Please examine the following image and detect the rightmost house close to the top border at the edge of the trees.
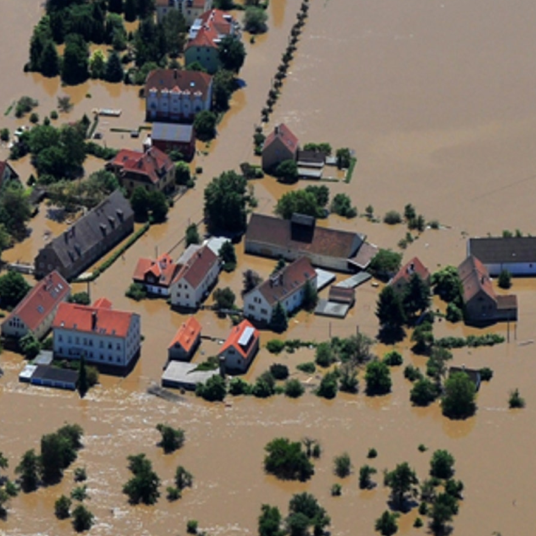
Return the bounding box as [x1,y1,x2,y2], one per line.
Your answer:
[186,9,234,69]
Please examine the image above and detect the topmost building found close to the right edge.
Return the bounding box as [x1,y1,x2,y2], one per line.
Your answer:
[465,237,536,276]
